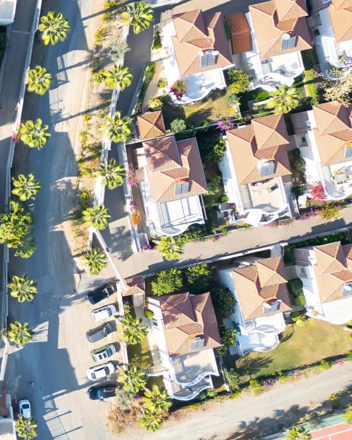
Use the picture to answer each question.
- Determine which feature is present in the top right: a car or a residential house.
residential house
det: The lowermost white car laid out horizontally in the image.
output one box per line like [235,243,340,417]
[83,362,115,380]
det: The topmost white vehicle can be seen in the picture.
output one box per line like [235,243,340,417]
[87,303,117,322]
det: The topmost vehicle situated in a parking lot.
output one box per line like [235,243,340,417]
[84,283,114,303]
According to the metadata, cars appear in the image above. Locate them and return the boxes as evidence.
[88,342,118,361]
[83,362,115,380]
[83,322,114,343]
[84,283,114,303]
[86,383,117,398]
[87,303,117,322]
[17,396,31,424]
